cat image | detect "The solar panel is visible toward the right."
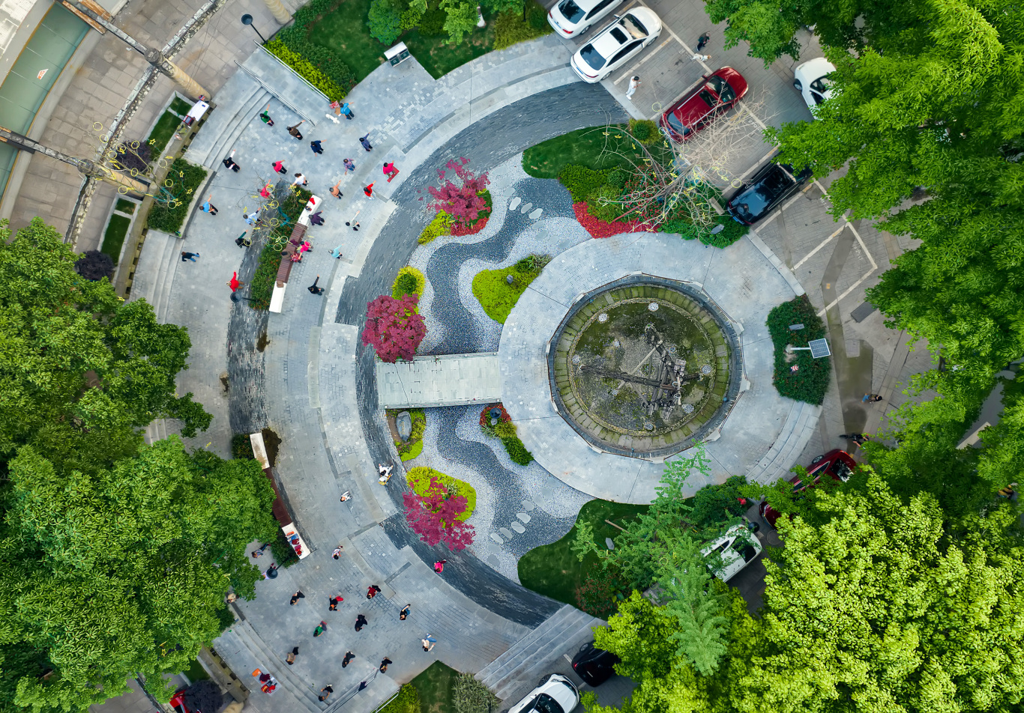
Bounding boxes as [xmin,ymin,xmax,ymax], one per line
[807,337,831,359]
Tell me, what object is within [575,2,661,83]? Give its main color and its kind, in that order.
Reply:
white car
